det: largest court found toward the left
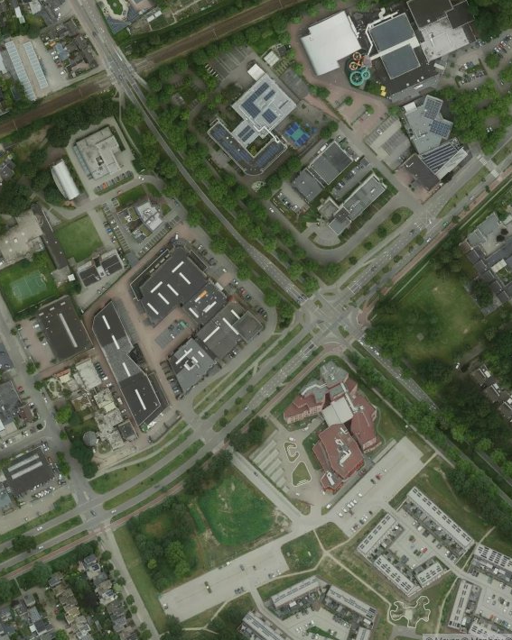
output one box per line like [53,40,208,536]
[11,272,46,300]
